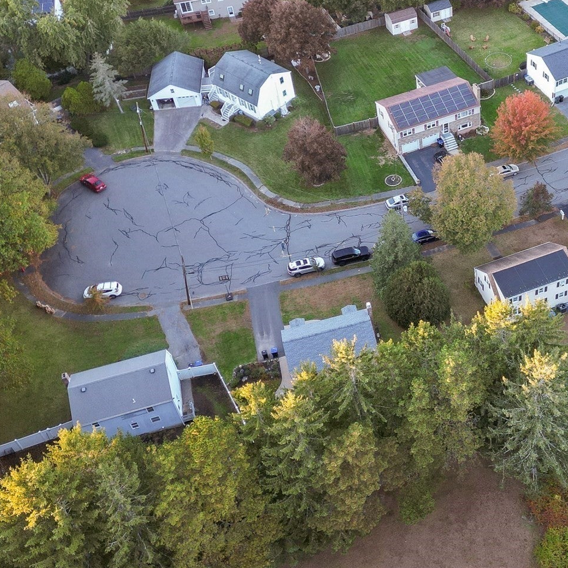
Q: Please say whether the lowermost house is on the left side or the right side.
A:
left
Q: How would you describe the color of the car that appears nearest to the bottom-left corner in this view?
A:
white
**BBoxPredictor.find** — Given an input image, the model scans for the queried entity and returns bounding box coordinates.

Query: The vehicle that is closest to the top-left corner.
[78,175,108,194]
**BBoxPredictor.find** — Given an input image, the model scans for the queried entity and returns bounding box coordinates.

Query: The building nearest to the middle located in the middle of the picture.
[280,298,376,389]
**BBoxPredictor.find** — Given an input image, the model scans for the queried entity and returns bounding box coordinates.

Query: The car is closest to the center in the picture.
[286,257,325,279]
